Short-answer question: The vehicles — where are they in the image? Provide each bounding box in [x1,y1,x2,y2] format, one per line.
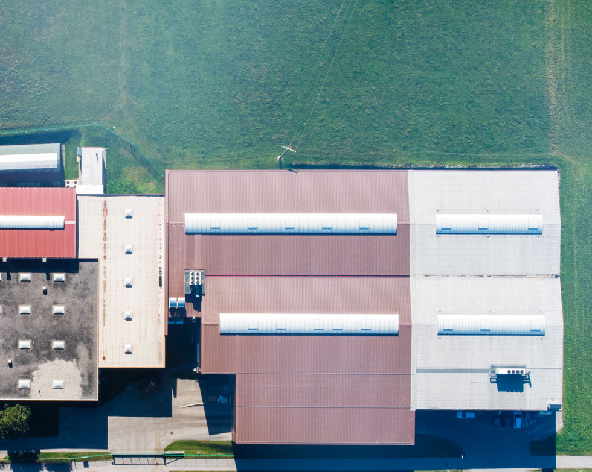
[513,411,523,429]
[456,411,474,420]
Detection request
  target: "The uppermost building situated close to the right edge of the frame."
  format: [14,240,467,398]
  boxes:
[409,170,563,411]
